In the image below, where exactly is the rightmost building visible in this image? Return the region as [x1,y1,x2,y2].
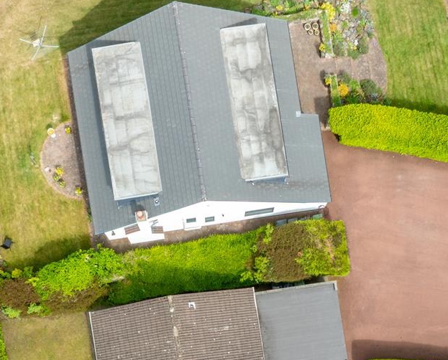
[256,281,347,360]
